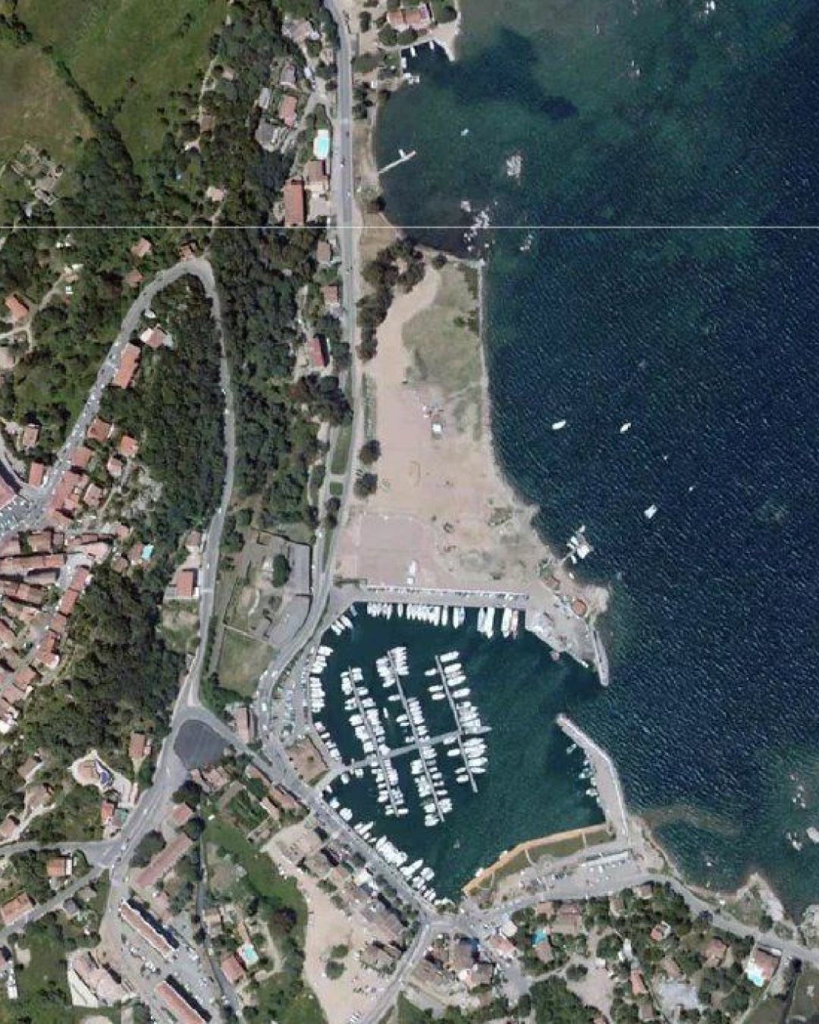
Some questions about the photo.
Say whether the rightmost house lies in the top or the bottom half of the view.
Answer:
bottom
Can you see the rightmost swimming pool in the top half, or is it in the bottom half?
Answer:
bottom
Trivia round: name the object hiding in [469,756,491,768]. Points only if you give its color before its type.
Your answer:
white boat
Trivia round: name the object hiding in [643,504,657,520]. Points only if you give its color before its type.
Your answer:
white boat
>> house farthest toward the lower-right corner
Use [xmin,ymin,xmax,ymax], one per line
[753,950,782,977]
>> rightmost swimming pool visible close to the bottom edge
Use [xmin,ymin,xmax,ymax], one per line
[745,958,765,987]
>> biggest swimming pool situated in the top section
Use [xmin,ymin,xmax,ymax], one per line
[314,130,329,159]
